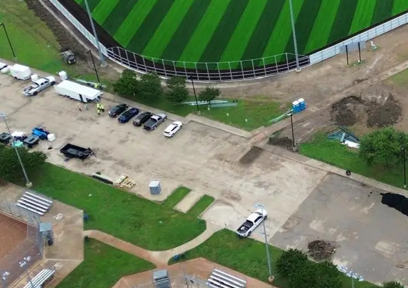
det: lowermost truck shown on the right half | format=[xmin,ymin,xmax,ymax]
[235,209,267,236]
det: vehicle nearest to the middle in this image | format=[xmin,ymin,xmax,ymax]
[163,122,183,137]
